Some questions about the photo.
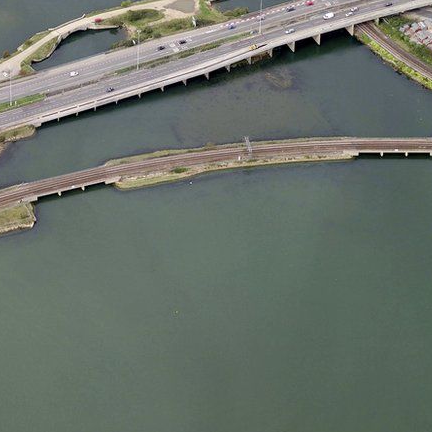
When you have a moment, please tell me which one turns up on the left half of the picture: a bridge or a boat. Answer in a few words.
bridge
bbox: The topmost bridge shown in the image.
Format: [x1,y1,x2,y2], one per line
[23,0,432,117]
